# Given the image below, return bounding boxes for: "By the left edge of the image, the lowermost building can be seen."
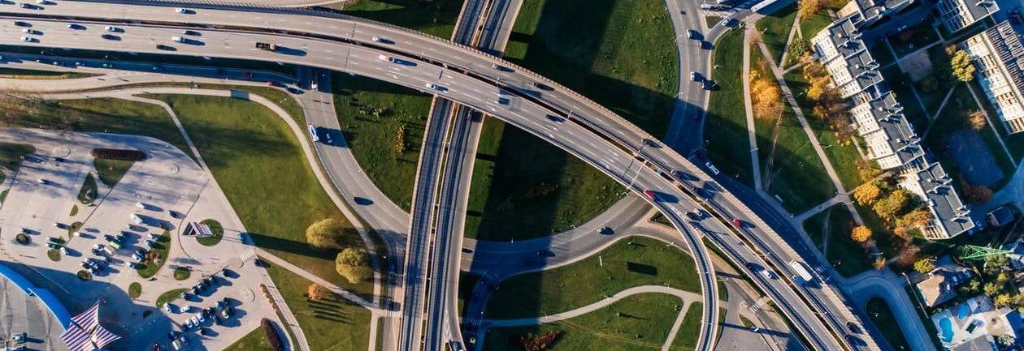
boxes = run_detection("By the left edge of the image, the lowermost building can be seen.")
[0,261,87,351]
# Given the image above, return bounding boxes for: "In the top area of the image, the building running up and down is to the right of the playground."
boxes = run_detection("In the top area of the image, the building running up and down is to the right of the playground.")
[966,13,1024,146]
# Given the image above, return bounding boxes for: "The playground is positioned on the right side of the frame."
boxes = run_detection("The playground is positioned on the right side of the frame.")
[902,48,934,81]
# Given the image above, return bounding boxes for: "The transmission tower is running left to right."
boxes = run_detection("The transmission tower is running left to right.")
[957,244,1007,260]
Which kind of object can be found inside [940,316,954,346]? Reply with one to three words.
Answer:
swimming pool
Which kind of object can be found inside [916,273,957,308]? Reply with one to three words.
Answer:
house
